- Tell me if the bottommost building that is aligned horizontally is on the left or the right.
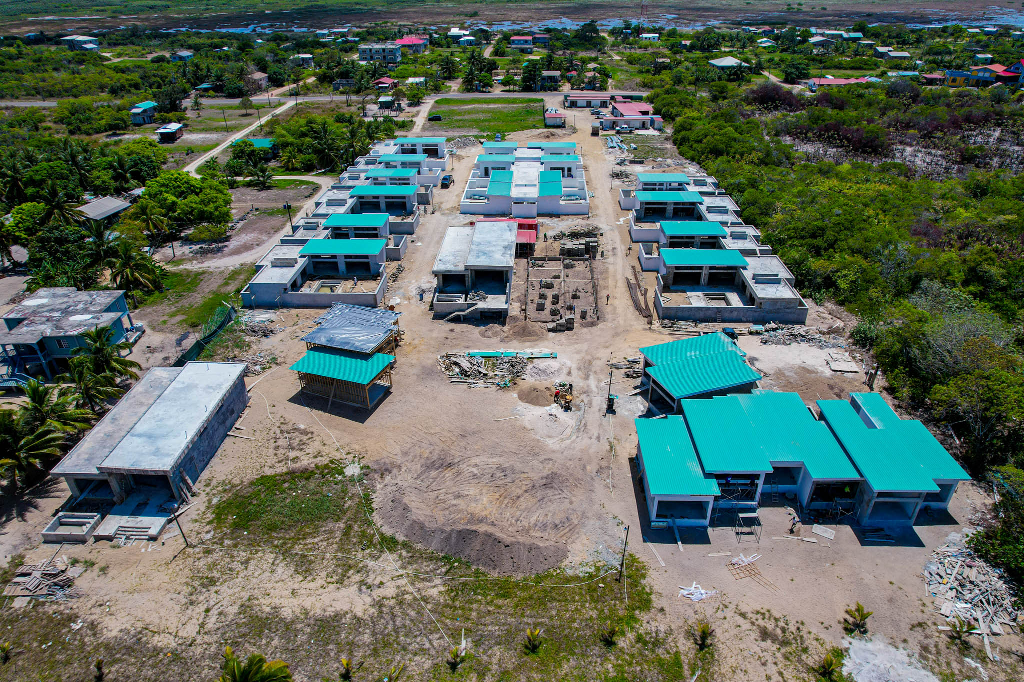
right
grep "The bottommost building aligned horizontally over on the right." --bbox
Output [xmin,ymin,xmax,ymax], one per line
[634,389,972,525]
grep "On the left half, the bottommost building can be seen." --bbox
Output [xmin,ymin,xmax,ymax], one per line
[50,362,255,544]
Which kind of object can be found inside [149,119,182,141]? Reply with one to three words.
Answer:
building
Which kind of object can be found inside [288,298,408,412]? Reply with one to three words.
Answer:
shed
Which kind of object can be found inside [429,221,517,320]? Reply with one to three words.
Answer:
house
